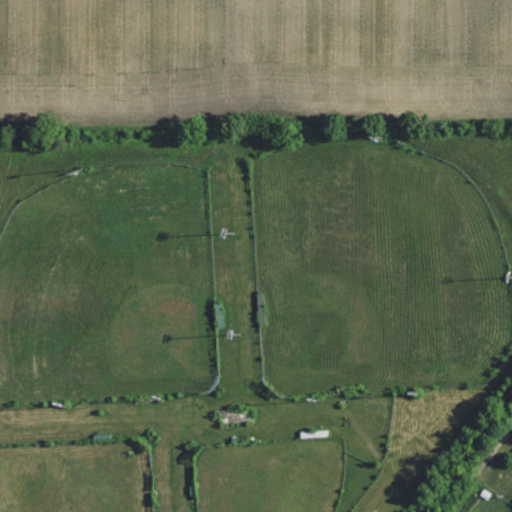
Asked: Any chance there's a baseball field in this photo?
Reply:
Yes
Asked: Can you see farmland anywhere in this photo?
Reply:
Yes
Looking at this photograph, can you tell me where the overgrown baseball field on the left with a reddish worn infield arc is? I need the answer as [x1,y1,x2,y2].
[0,164,218,398]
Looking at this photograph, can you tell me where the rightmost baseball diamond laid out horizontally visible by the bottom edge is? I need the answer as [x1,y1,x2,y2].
[196,444,345,512]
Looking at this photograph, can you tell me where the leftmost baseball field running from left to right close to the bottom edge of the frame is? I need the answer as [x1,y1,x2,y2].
[0,447,152,512]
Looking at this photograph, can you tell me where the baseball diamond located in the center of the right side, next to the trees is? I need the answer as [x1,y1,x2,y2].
[250,144,512,395]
